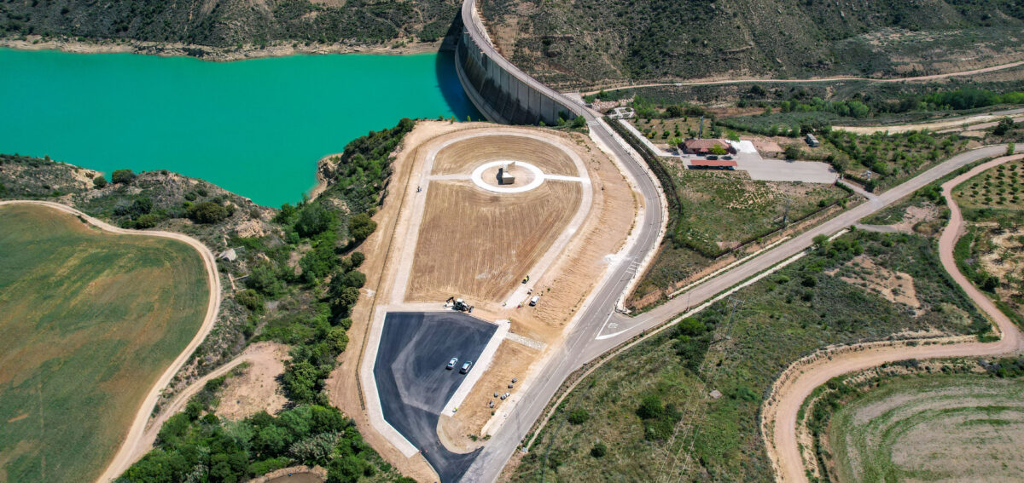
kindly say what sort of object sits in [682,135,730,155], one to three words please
house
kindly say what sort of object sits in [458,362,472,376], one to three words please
car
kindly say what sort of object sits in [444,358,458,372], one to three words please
car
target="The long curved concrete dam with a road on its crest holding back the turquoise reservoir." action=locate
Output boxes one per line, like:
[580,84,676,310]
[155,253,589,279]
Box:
[457,0,597,127]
